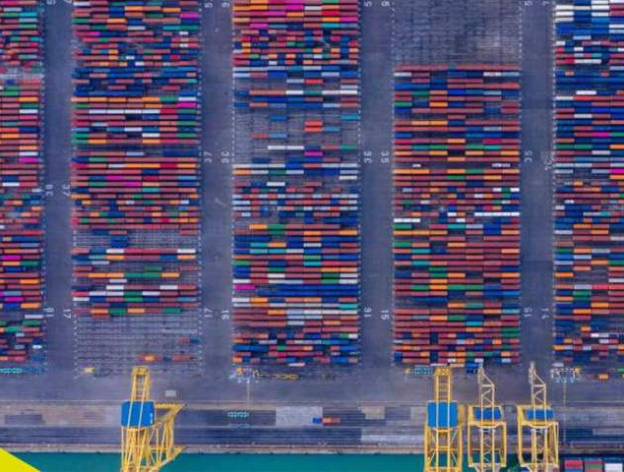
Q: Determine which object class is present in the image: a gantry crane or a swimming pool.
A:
gantry crane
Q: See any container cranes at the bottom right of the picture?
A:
Yes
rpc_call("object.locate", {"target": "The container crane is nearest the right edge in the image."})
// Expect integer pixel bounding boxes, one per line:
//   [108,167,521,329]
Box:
[509,361,557,472]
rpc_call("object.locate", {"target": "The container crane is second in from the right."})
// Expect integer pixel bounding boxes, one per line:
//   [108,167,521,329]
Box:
[463,361,507,472]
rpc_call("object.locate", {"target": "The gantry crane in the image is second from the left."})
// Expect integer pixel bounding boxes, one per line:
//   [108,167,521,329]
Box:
[422,365,464,472]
